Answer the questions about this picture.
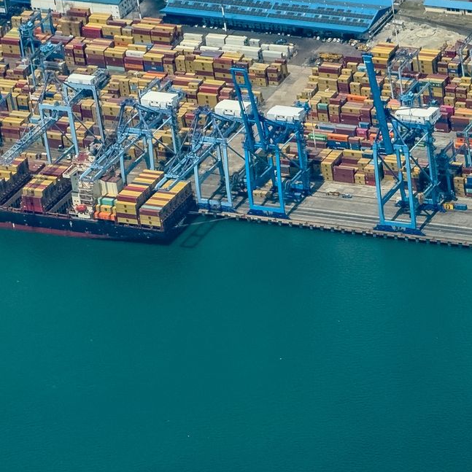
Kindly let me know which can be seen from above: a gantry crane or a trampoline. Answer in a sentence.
Of the two, only a gantry crane appears.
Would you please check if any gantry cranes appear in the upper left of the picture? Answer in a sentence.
Yes, you'll find a gantry crane in the upper left of the picture.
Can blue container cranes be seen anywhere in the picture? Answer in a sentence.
Yes, the image includes a blue container crane.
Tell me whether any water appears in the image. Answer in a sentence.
Yes, some water is visible.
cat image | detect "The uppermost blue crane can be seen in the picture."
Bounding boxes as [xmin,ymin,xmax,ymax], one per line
[15,15,54,56]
